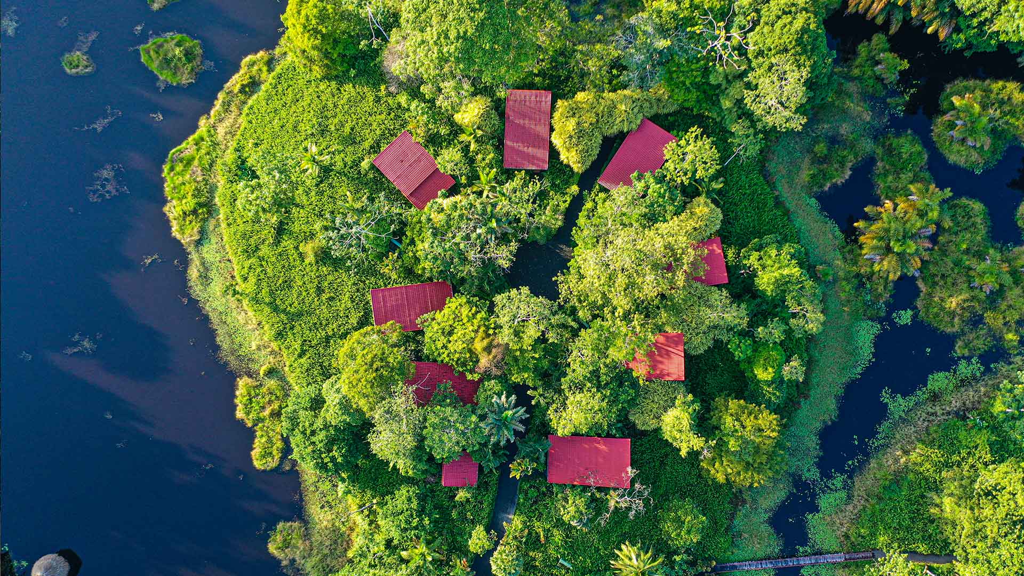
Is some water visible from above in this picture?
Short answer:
Yes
